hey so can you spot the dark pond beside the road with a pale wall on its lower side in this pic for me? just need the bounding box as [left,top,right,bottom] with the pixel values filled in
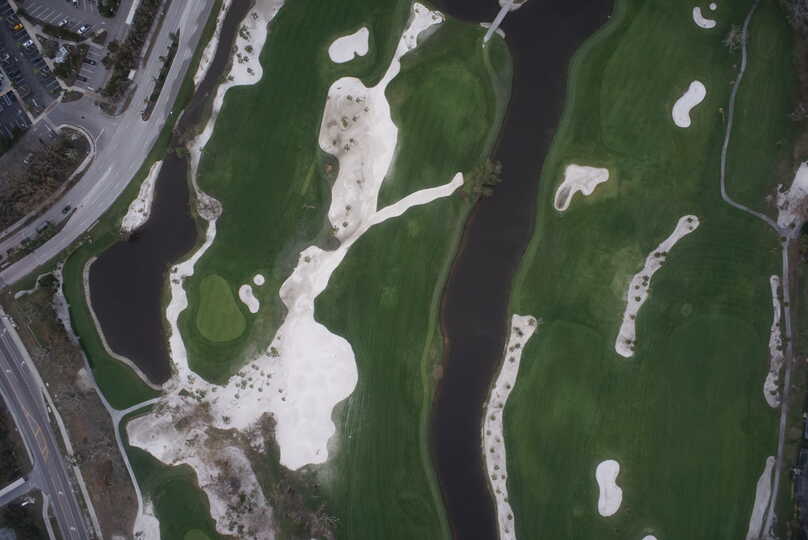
[88,152,199,387]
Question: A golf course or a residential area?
golf course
